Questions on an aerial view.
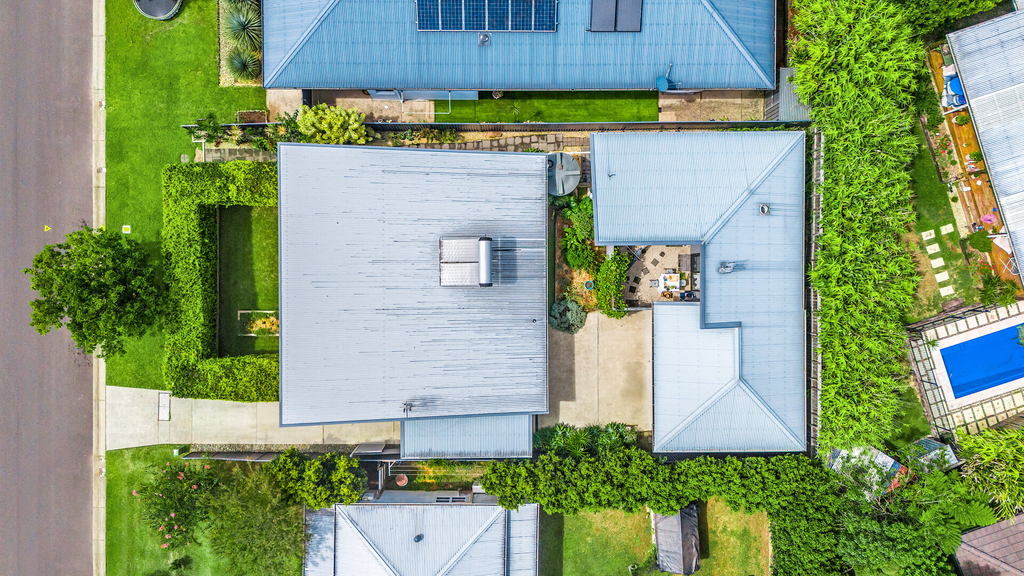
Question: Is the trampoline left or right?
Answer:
left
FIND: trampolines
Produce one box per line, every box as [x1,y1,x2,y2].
[135,0,185,24]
